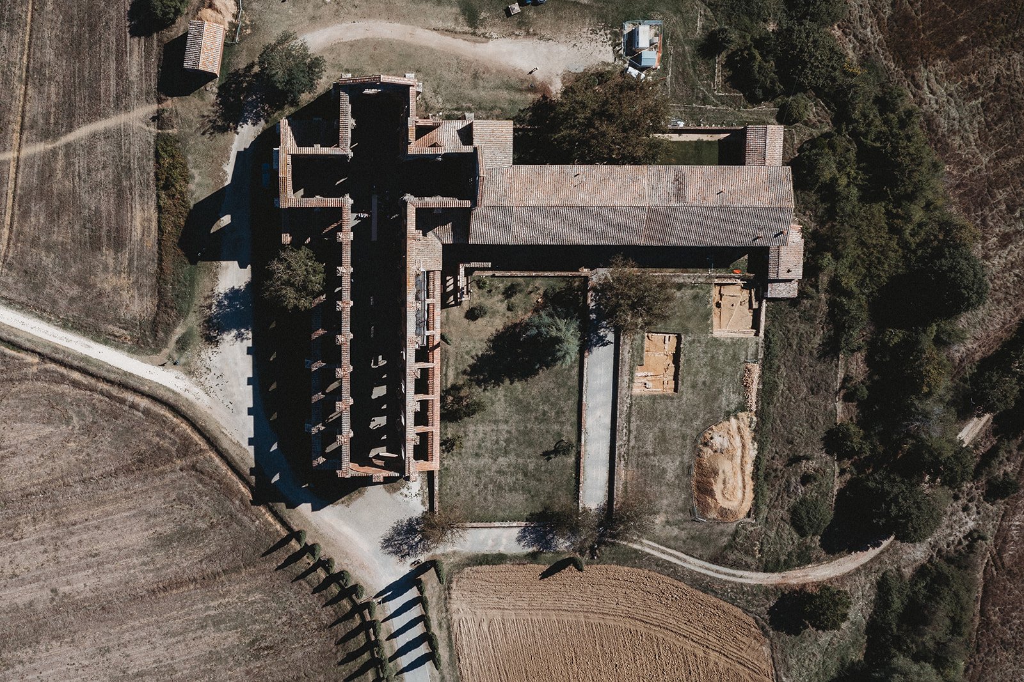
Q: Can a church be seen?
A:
Yes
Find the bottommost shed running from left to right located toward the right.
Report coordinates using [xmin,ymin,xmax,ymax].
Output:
[759,279,798,297]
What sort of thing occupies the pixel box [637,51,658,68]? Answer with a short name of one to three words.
shed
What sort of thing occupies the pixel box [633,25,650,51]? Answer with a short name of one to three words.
building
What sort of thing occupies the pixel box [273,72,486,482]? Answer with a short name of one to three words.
church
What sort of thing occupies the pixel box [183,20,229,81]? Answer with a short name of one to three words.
barn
